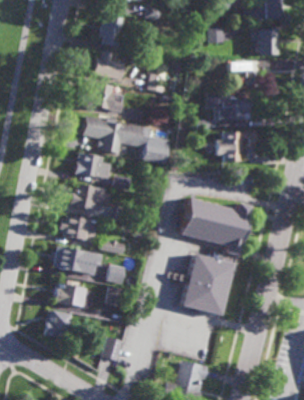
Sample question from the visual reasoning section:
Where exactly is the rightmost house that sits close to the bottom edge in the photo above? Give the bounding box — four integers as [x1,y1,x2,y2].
[176,360,210,396]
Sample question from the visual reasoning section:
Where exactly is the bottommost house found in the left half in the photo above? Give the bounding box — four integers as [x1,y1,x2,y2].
[102,338,125,364]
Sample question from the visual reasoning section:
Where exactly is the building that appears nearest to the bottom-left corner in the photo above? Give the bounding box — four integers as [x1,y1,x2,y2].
[46,310,76,337]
